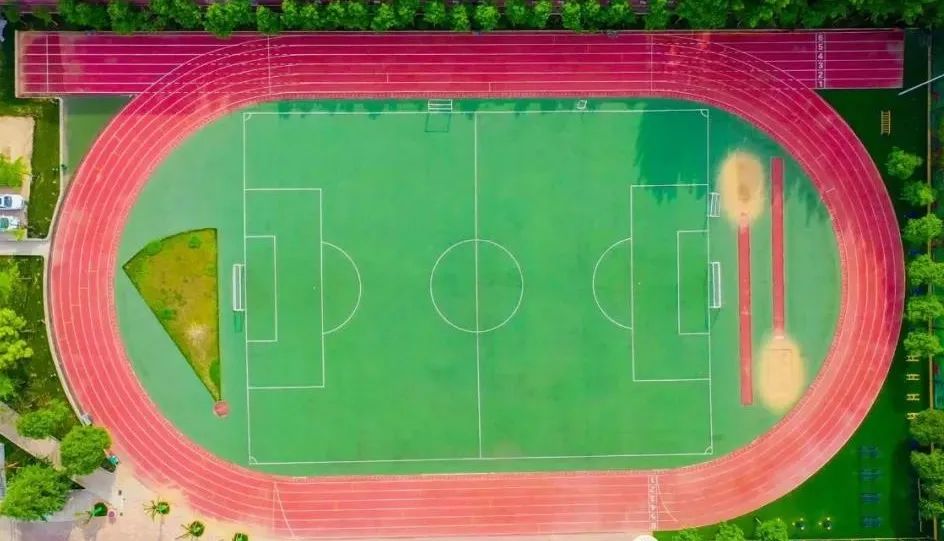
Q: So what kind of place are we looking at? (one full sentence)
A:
This image shows a sports ground.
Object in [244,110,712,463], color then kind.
green soccer field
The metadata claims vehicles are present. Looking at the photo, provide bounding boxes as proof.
[0,192,28,209]
[0,213,23,229]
